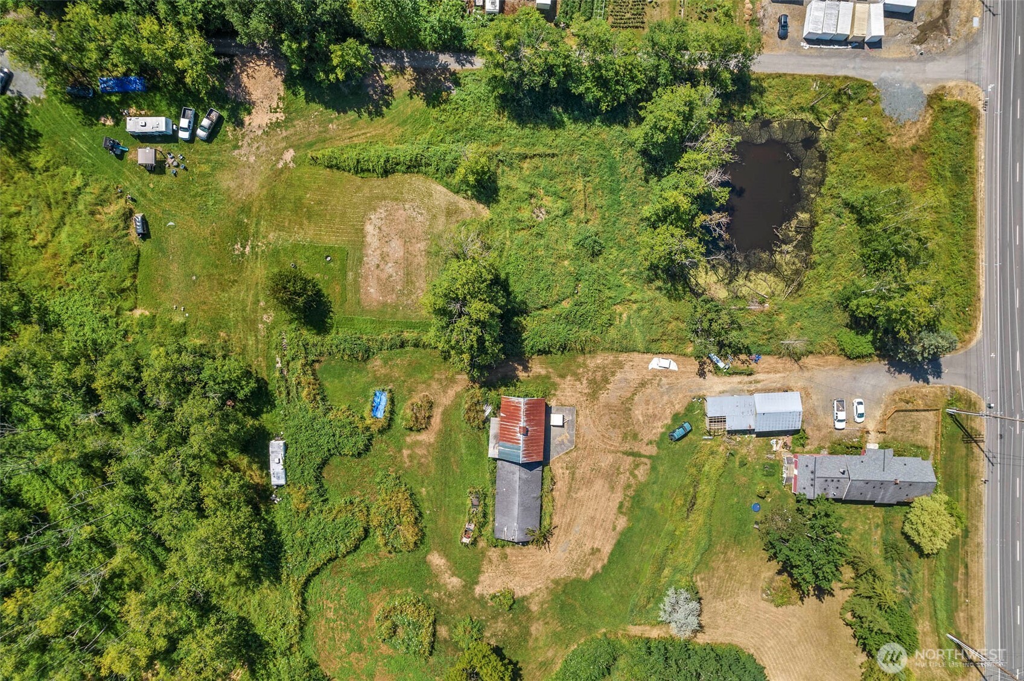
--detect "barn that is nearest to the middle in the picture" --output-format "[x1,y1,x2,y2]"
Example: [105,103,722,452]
[500,397,548,463]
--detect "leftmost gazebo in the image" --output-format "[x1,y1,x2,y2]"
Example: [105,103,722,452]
[133,147,156,165]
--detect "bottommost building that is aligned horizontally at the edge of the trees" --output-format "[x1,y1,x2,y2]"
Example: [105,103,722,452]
[791,443,941,505]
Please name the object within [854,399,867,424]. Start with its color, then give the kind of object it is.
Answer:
white vehicle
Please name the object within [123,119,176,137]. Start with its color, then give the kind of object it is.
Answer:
white trailer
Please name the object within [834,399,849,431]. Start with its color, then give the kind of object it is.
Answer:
white vehicle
